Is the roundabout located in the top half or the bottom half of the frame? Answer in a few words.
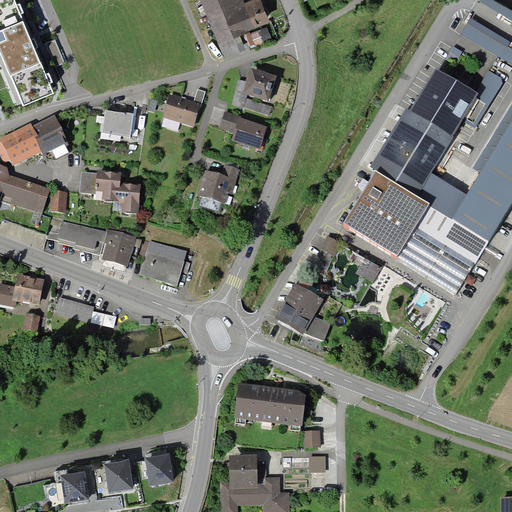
bottom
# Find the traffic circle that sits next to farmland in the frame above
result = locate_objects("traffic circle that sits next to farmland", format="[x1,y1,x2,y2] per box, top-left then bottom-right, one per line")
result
[186,296,256,383]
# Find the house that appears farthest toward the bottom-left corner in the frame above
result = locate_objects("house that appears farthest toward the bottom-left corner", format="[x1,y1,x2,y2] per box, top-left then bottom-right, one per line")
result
[56,471,90,504]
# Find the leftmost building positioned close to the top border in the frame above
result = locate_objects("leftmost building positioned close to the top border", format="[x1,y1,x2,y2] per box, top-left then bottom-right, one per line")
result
[0,0,54,107]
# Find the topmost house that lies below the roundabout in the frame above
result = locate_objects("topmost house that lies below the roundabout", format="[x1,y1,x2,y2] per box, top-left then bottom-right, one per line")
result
[234,382,306,432]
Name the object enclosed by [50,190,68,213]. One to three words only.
building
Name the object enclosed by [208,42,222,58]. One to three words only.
vehicle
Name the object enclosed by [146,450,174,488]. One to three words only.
house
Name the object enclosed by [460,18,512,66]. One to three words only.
building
